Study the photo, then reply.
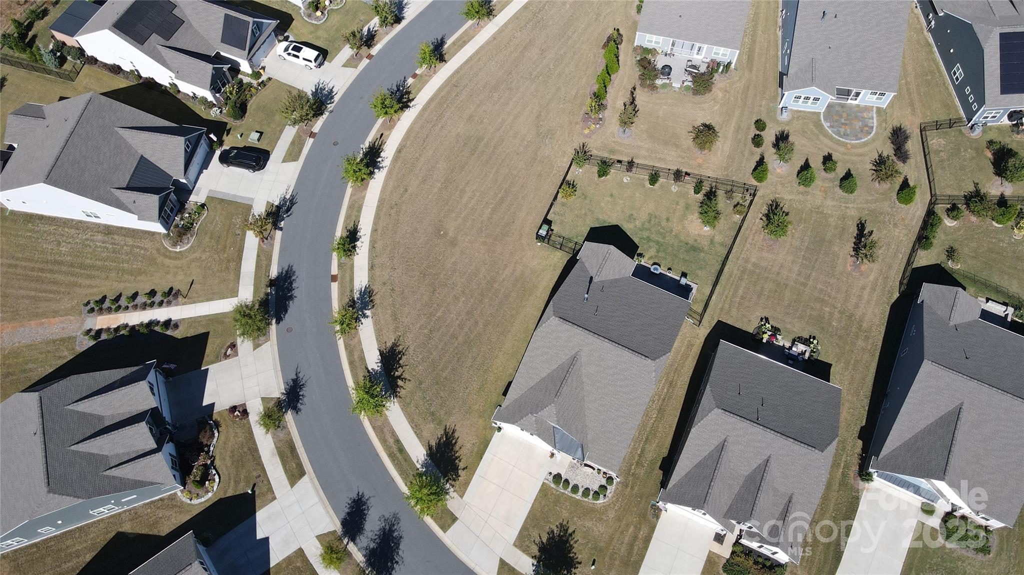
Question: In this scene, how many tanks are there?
0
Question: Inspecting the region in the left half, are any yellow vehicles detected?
No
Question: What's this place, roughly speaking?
residential area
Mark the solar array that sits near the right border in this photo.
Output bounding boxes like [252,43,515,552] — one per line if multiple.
[999,32,1024,95]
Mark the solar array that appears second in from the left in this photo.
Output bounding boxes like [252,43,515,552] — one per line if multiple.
[221,13,250,50]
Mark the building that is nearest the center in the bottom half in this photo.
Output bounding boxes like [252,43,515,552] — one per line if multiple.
[490,241,692,478]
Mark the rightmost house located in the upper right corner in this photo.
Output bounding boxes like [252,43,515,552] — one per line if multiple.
[928,0,1024,122]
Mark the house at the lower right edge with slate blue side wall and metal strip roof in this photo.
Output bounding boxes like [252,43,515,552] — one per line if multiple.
[862,282,1024,538]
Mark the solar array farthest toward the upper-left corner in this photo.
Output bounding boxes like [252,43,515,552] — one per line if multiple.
[113,0,177,44]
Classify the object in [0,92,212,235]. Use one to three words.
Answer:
house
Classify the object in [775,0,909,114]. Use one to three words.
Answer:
house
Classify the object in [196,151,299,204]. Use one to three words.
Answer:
car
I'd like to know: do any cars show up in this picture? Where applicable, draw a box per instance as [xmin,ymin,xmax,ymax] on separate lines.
[196,151,299,204]
[213,143,270,172]
[271,37,328,70]
[260,50,355,104]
